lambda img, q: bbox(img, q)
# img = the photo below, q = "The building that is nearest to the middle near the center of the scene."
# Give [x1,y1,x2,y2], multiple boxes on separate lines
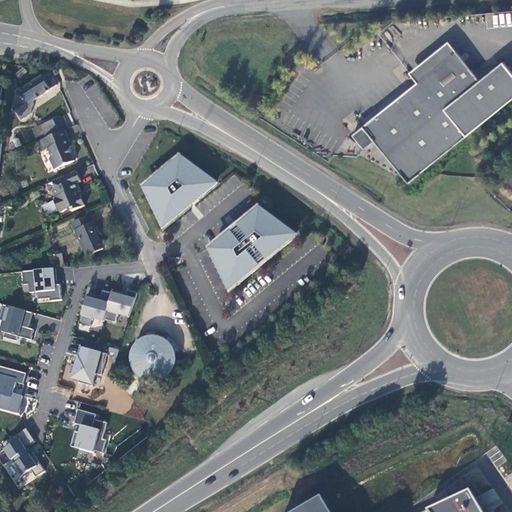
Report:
[206,204,296,292]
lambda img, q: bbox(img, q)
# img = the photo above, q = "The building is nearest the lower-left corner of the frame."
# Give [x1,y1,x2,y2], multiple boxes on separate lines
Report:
[5,430,48,490]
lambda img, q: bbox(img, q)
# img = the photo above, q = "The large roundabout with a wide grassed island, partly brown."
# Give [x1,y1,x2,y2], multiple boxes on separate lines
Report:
[377,210,512,396]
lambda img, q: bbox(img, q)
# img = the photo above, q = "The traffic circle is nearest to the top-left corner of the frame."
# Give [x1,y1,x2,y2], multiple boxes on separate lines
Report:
[110,41,188,121]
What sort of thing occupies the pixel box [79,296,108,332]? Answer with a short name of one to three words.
house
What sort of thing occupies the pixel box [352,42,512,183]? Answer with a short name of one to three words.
building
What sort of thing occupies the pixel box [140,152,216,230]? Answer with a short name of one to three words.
building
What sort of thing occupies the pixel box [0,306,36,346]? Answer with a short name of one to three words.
house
